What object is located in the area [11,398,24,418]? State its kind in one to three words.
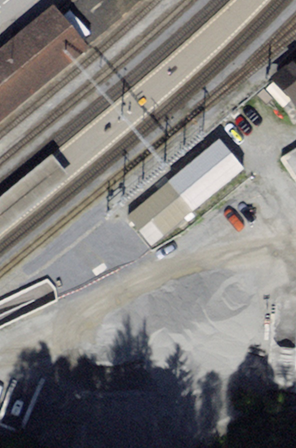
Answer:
vehicle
